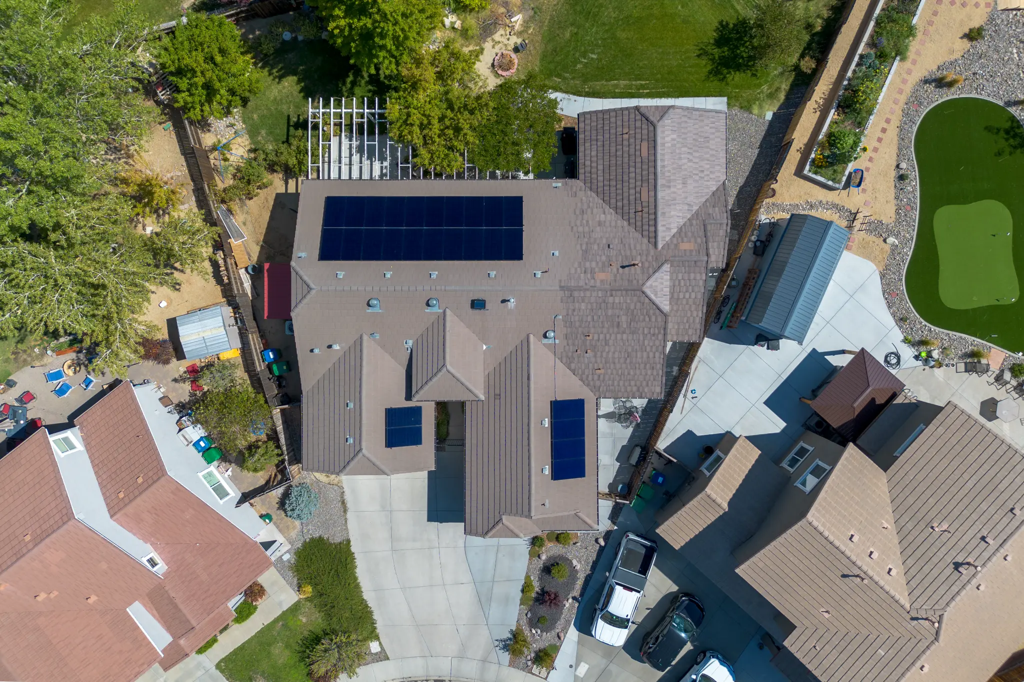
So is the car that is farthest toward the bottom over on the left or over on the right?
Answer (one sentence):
The car that is farthest toward the bottom is on the right side of the image.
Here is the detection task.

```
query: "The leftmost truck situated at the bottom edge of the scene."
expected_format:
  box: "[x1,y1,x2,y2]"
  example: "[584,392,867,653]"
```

[595,528,661,649]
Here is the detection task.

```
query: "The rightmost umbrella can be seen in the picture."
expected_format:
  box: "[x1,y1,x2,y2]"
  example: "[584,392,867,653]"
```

[992,401,1015,424]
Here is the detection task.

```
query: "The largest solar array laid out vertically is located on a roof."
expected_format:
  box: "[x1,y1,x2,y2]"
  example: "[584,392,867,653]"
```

[551,399,586,481]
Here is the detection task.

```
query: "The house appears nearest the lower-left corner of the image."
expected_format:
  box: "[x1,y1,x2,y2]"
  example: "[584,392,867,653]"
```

[0,379,276,682]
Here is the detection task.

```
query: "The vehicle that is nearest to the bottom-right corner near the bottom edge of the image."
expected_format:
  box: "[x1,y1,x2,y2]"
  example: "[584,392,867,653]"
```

[677,649,731,682]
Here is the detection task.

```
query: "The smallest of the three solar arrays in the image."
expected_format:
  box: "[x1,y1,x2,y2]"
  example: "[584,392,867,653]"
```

[385,406,422,448]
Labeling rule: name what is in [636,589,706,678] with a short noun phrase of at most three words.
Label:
car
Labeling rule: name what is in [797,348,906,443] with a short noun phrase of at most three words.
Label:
gazebo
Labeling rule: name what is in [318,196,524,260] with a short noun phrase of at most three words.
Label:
solar array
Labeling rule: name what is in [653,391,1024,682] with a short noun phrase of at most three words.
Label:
house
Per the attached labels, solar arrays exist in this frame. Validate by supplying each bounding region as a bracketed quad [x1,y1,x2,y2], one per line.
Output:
[318,196,524,260]
[551,399,586,481]
[385,406,422,448]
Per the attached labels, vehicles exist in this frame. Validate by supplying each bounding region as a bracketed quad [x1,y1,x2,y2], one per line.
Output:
[636,589,706,678]
[595,528,661,649]
[677,649,731,682]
